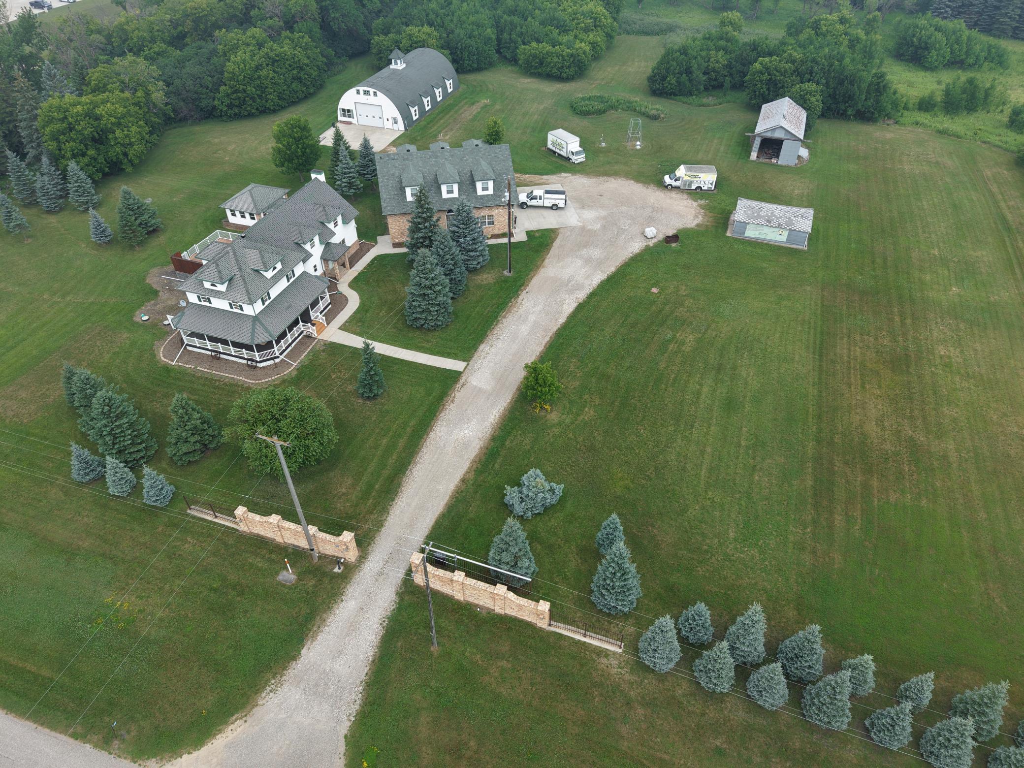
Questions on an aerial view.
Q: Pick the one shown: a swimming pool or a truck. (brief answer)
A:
truck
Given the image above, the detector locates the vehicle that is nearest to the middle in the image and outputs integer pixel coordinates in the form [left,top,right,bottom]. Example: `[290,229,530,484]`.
[516,190,567,210]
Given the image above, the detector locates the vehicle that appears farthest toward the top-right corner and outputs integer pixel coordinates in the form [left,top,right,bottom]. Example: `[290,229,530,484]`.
[662,162,715,191]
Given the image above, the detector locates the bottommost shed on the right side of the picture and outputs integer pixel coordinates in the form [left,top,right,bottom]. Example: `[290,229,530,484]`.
[727,196,815,249]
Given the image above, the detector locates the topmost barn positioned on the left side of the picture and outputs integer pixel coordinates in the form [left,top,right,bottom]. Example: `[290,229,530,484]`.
[336,45,457,132]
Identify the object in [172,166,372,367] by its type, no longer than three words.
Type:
house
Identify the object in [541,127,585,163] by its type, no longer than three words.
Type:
truck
